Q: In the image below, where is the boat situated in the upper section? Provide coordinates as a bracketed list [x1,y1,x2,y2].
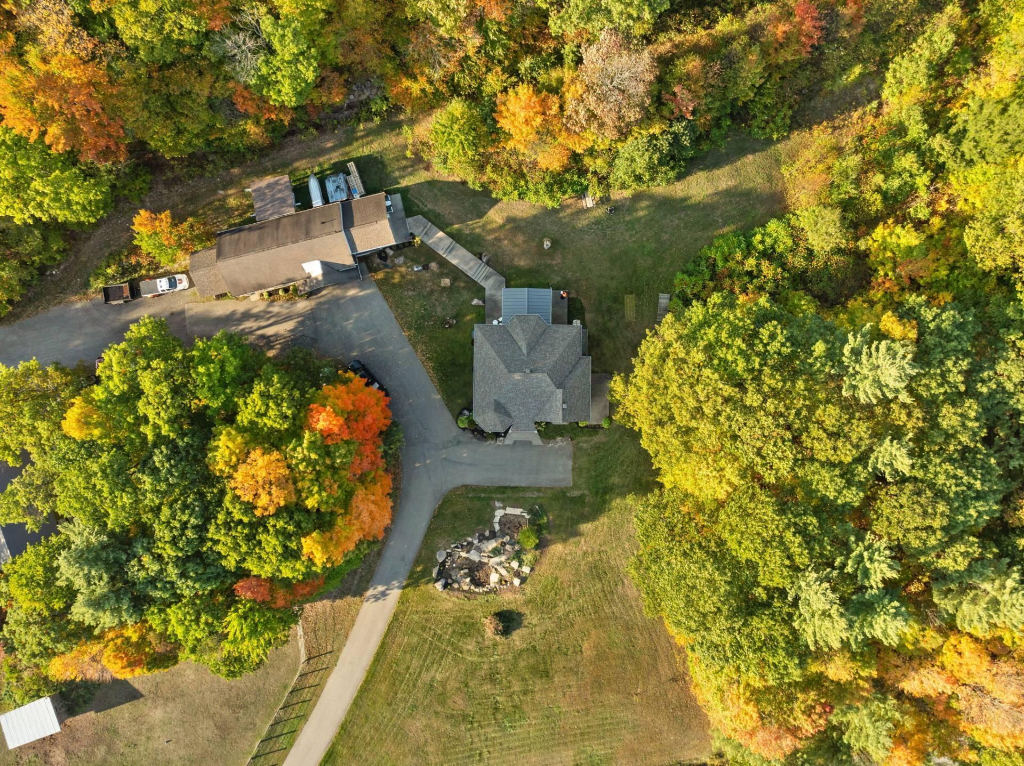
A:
[307,173,326,208]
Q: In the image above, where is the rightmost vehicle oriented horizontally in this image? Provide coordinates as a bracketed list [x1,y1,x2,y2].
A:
[140,274,191,298]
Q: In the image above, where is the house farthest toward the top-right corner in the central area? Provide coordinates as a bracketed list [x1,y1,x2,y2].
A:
[470,314,592,433]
